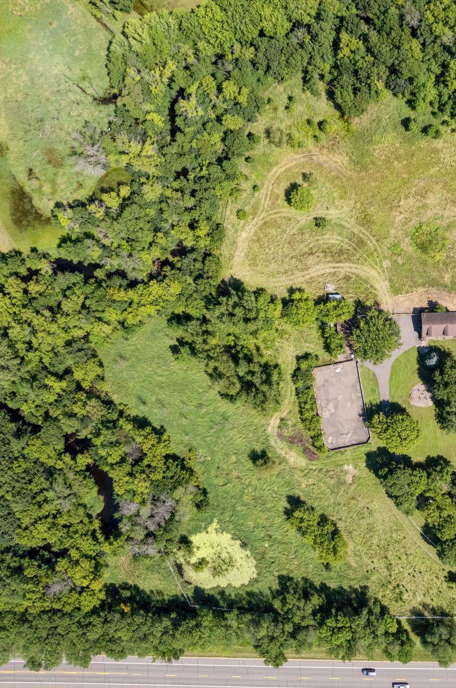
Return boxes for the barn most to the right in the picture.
[421,312,456,340]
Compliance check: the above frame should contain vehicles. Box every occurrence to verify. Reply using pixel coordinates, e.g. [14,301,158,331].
[362,667,376,676]
[392,682,410,688]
